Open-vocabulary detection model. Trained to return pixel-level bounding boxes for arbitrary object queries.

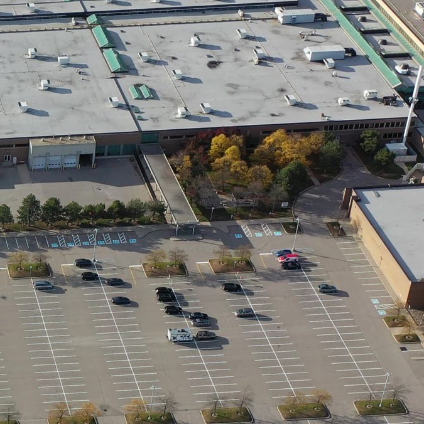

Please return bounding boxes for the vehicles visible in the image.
[194,330,216,340]
[317,284,338,293]
[281,260,302,270]
[234,307,256,318]
[279,252,299,263]
[274,249,293,257]
[153,285,173,296]
[80,271,99,280]
[164,305,184,314]
[221,283,241,292]
[74,258,93,267]
[157,292,177,303]
[191,319,211,327]
[33,280,53,290]
[111,297,131,305]
[187,312,208,320]
[105,278,125,286]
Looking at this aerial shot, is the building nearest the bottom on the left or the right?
right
